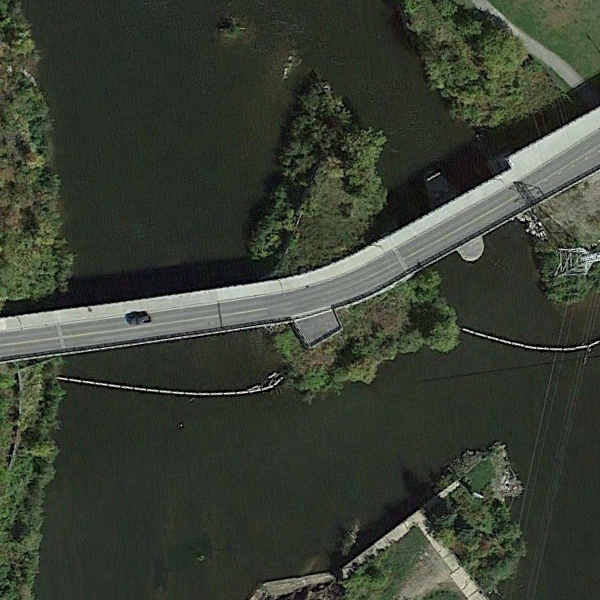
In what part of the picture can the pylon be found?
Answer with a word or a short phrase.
right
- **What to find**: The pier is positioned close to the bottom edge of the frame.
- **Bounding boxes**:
[250,571,335,600]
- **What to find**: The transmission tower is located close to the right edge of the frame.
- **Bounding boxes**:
[554,246,600,275]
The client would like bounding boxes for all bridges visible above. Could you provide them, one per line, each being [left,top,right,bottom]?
[0,107,600,363]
